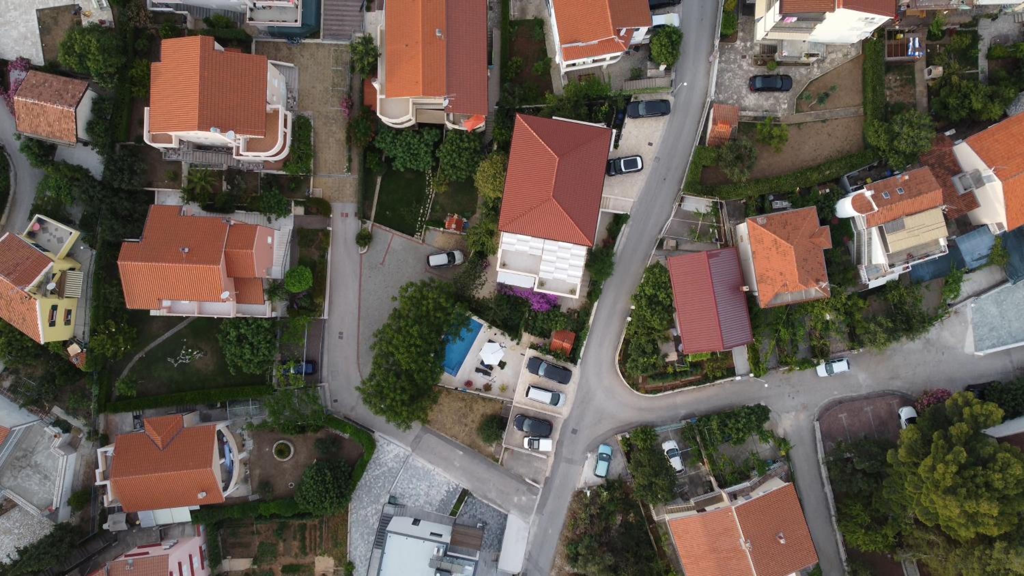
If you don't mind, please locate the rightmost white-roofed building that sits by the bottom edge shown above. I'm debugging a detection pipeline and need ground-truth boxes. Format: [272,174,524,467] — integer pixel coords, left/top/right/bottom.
[498,509,529,575]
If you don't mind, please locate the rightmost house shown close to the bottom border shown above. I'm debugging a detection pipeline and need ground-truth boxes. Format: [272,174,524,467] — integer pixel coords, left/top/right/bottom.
[649,454,818,576]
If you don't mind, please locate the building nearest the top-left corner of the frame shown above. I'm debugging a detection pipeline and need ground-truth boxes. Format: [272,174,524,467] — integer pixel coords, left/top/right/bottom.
[13,70,107,148]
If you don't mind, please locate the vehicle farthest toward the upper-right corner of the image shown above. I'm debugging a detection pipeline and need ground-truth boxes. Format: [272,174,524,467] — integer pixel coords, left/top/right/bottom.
[746,71,793,94]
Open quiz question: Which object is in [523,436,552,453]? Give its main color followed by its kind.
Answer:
white vehicle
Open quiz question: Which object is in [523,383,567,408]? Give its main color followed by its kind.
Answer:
white car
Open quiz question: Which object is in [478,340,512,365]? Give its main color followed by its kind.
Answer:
white umbrella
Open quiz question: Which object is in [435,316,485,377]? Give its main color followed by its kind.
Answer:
blue swimming pool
